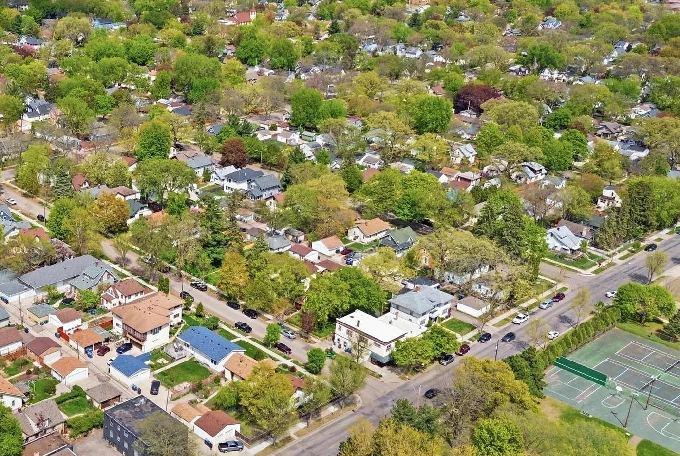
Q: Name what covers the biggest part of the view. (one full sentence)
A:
The scene is dominated by trees.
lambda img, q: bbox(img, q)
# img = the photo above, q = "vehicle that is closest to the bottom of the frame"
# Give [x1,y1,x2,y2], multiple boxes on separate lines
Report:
[219,439,243,455]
